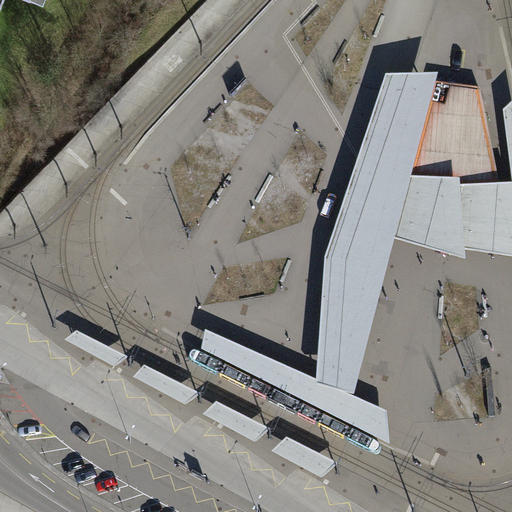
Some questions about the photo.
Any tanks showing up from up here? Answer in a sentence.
No, I can see no tank in this picture.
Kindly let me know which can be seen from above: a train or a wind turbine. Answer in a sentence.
It is a train that can be seen here.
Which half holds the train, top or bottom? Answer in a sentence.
The bottom half of the photo is where the train is.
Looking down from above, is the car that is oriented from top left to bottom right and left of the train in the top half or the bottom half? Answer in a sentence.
The car that is oriented from top left to bottom right and left of the train is in the bottom half of the image.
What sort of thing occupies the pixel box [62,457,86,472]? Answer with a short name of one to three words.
car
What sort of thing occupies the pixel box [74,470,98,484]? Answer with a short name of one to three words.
car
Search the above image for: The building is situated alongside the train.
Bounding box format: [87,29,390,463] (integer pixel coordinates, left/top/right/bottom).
[317,72,438,394]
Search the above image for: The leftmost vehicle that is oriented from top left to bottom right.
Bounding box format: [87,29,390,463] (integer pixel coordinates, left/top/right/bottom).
[69,424,92,444]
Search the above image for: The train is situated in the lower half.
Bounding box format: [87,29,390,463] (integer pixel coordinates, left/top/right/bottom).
[188,350,382,455]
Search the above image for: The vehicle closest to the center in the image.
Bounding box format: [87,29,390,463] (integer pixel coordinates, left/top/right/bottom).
[320,196,335,222]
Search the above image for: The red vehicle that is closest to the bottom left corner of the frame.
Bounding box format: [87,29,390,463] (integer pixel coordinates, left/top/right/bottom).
[94,480,118,495]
